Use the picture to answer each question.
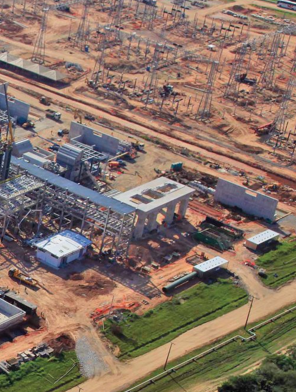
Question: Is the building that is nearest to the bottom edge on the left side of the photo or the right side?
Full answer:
The building that is nearest to the bottom edge sits on the right side.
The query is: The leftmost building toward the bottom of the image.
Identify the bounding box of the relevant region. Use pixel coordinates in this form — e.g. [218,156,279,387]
[33,231,92,269]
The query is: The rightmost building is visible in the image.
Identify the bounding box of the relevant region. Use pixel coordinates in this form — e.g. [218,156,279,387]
[246,229,280,250]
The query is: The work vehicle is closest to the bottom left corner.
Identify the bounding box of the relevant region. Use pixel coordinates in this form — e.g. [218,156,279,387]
[14,271,38,288]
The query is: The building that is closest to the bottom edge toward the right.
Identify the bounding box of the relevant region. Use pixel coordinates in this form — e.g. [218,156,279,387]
[193,257,228,278]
